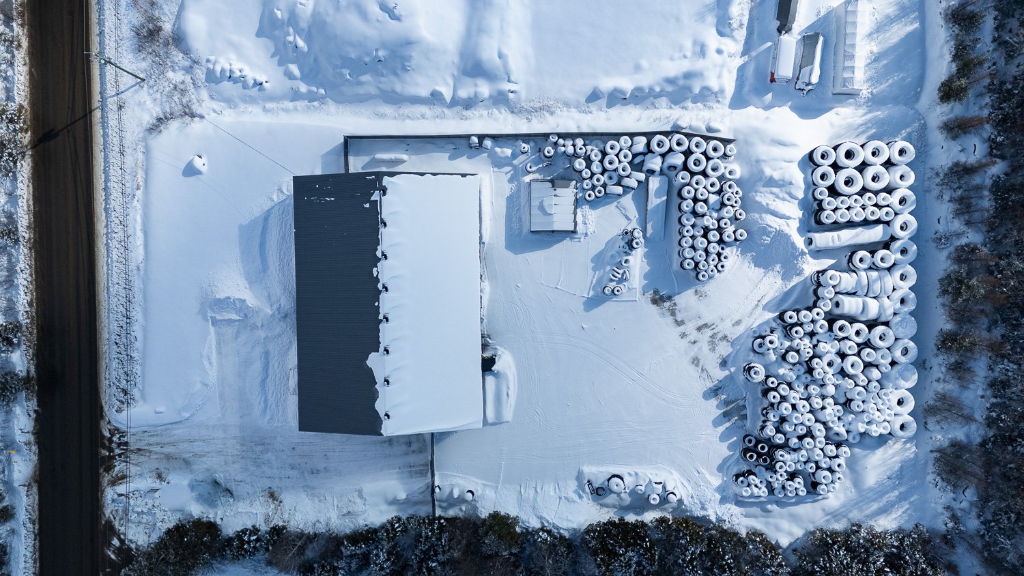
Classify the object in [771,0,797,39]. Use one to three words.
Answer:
trailer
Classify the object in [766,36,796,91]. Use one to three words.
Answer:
truck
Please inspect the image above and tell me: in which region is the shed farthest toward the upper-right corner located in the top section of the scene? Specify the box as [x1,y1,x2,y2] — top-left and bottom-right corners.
[531,179,577,232]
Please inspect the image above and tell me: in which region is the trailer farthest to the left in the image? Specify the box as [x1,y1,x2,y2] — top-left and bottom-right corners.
[645,171,668,241]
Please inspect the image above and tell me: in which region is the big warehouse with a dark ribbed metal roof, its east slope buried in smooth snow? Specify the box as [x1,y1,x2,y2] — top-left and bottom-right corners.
[293,170,483,437]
